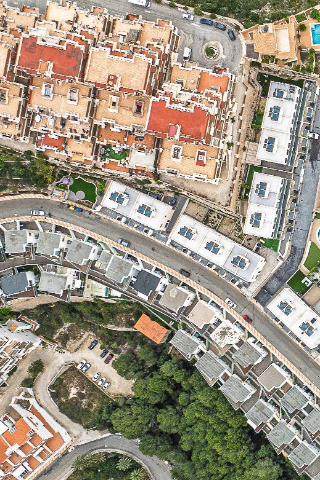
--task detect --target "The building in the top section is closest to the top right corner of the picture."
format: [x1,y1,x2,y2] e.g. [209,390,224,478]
[252,23,302,61]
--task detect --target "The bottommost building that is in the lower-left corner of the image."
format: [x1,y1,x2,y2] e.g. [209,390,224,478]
[0,400,75,480]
